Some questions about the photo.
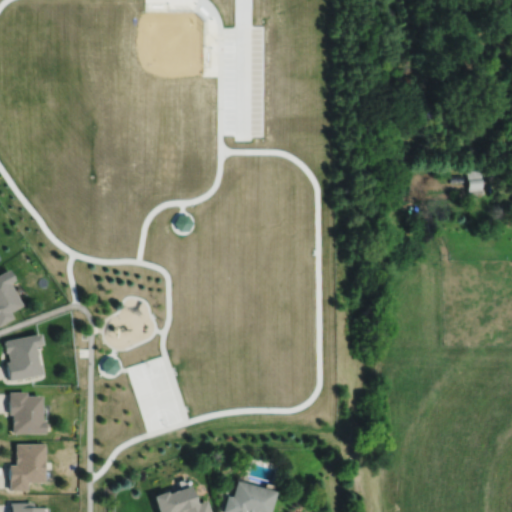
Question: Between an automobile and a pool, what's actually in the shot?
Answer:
pool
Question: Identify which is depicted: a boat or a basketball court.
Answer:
basketball court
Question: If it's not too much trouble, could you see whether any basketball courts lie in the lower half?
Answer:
Yes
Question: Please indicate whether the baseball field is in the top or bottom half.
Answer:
top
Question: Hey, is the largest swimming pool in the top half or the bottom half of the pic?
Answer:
bottom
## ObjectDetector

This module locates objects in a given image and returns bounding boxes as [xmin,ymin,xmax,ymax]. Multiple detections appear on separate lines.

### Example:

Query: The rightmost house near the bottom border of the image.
[226,482,279,512]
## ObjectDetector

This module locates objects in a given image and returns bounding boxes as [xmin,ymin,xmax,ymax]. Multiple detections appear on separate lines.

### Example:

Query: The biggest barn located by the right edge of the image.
[469,173,486,196]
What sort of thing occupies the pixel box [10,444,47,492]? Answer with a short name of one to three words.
house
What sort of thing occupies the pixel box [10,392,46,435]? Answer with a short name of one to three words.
house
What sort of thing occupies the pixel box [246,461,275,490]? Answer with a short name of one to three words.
swimming pool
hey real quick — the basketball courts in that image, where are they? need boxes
[128,354,190,434]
